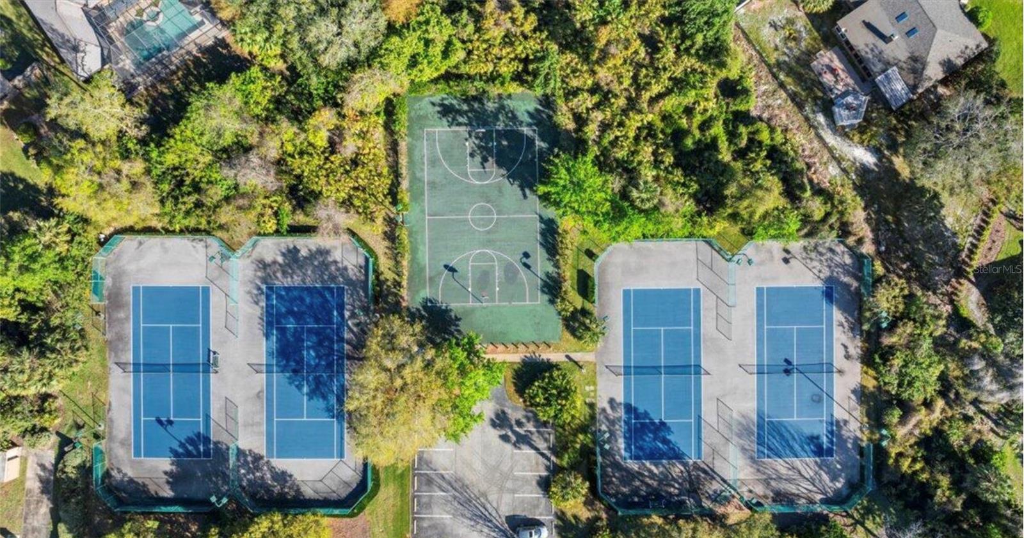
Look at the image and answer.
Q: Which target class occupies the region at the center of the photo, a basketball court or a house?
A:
basketball court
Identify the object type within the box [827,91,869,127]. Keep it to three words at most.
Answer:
gazebo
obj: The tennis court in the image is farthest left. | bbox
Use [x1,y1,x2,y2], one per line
[105,240,237,507]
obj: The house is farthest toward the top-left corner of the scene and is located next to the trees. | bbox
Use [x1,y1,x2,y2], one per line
[24,0,102,80]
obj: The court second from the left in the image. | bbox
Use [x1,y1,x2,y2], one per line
[238,239,376,507]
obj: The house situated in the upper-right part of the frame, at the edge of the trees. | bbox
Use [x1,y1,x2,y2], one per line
[833,0,988,95]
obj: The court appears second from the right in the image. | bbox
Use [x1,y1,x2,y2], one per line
[593,242,725,507]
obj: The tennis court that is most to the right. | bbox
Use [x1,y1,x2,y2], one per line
[725,242,862,506]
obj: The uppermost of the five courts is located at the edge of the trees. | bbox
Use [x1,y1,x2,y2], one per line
[408,92,562,344]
